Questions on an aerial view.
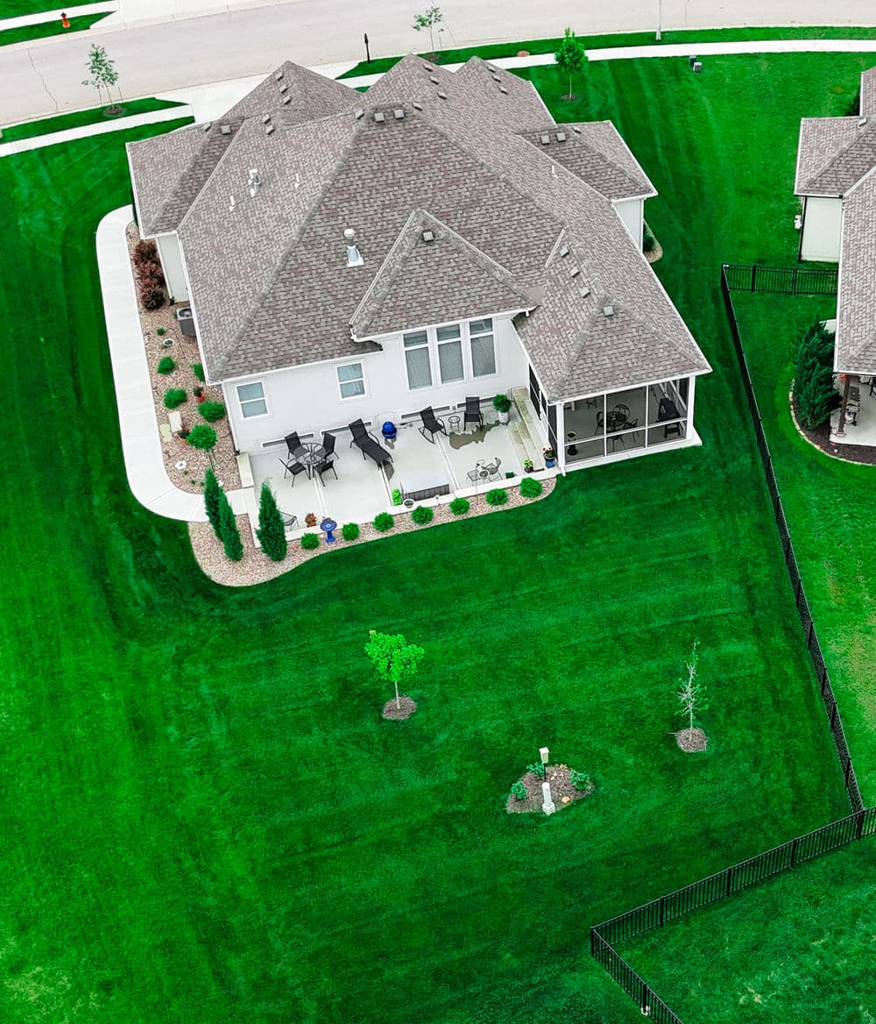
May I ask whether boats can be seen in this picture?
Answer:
No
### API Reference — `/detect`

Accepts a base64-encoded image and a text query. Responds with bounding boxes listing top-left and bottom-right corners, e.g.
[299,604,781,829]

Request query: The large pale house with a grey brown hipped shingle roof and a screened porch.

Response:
[123,54,717,478]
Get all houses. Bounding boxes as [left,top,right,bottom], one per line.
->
[123,54,717,478]
[792,71,876,447]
